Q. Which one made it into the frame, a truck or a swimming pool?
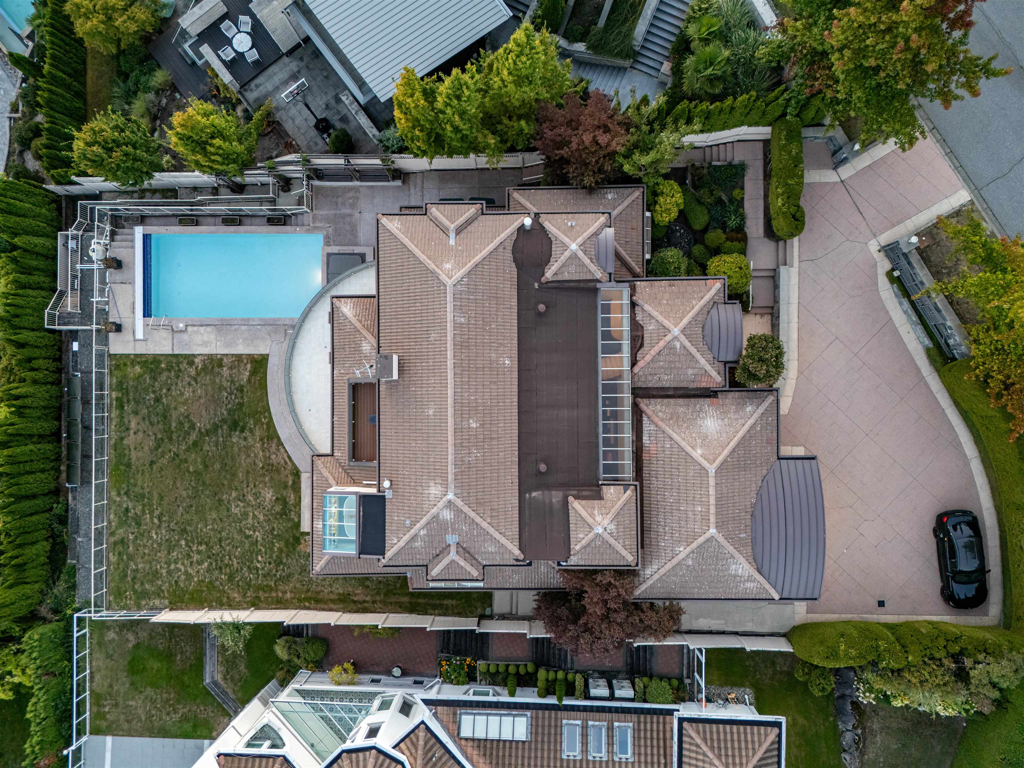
swimming pool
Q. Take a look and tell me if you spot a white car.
No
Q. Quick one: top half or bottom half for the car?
bottom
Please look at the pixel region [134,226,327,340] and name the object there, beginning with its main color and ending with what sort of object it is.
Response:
blue swimming pool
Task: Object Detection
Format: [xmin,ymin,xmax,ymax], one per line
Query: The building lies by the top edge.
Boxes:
[285,0,514,108]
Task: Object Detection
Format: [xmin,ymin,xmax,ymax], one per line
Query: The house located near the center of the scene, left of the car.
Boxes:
[283,183,824,604]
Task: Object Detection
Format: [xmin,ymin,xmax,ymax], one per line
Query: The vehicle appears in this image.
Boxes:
[929,513,995,611]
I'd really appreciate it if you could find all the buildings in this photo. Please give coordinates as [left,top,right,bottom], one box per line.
[283,183,824,604]
[285,0,514,108]
[171,661,788,768]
